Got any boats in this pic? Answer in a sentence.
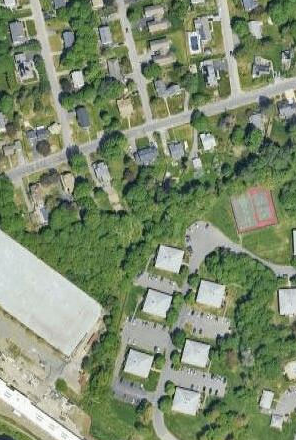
No, there isn't any boat down there.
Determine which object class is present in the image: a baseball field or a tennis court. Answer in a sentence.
The one in the frame is a tennis court.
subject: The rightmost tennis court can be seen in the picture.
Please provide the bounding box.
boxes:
[252,188,277,226]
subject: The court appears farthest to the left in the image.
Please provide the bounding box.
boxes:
[231,192,260,233]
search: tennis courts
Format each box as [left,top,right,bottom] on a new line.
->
[231,192,260,233]
[252,188,277,226]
